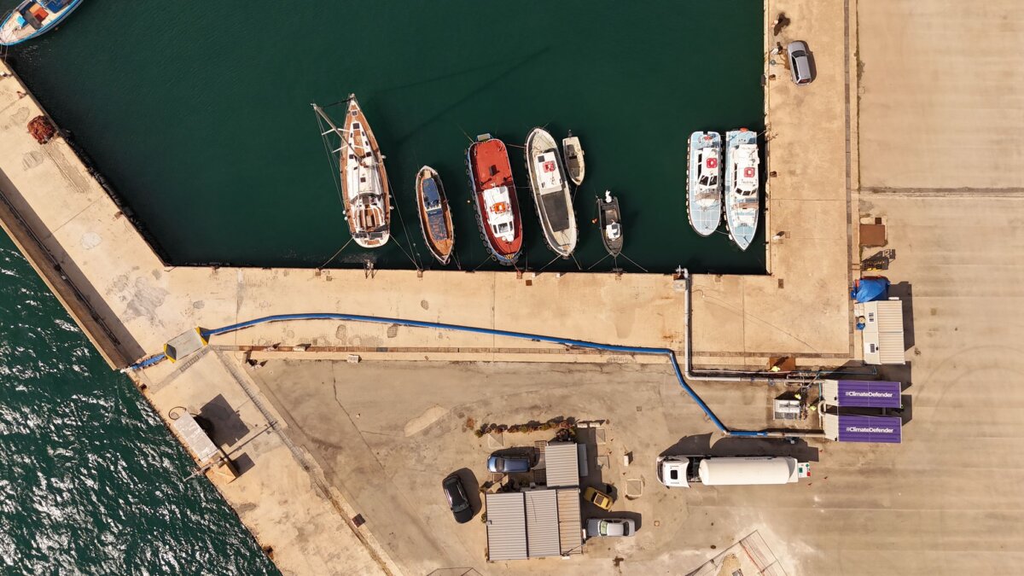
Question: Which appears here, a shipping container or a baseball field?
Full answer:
The image shows a shipping container.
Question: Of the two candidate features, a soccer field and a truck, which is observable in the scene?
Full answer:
It is a truck that can be seen here.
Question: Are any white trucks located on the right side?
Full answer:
Yes, a white truck is visible on the right side.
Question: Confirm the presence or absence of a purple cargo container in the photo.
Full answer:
Yes, a purple cargo container can be made out from above.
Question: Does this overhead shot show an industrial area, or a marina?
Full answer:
The area seen from above is a marina.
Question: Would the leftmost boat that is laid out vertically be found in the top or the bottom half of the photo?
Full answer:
You can find the leftmost boat that is laid out vertically in the top half.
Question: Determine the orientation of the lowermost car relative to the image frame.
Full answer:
In this picture, the lowermost car lies horizontally.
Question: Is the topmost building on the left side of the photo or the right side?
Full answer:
The topmost building is on the right side of the image.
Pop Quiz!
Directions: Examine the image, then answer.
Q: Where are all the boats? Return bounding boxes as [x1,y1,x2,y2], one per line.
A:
[414,165,456,264]
[723,128,759,252]
[686,131,724,237]
[0,0,91,47]
[306,91,394,247]
[562,132,585,185]
[596,190,624,257]
[522,128,581,262]
[463,132,525,265]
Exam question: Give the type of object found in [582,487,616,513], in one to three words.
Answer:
car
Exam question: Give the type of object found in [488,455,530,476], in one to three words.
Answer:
car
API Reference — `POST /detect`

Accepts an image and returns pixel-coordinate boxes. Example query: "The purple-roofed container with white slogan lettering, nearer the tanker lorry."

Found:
[825,412,902,443]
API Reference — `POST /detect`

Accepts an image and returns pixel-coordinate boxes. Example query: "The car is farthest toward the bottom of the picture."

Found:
[586,517,636,539]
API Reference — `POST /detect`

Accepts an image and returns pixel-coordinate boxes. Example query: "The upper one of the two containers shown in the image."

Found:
[825,379,902,408]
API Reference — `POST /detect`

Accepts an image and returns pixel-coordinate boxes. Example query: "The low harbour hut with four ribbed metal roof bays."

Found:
[485,441,588,562]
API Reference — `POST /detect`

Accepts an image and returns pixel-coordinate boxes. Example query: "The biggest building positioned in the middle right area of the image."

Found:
[864,298,906,364]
